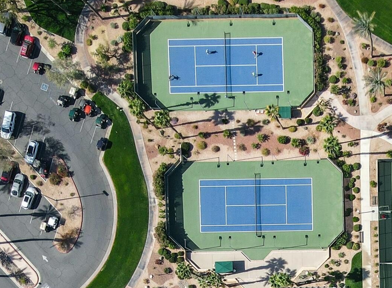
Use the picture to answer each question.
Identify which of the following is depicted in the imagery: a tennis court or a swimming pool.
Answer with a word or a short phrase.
tennis court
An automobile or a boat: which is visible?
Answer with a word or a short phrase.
automobile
